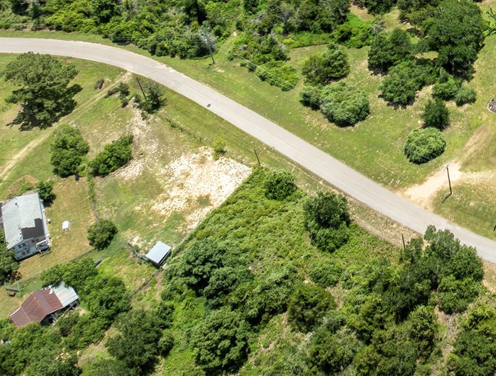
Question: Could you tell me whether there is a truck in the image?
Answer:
No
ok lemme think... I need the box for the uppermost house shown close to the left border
[0,192,53,256]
